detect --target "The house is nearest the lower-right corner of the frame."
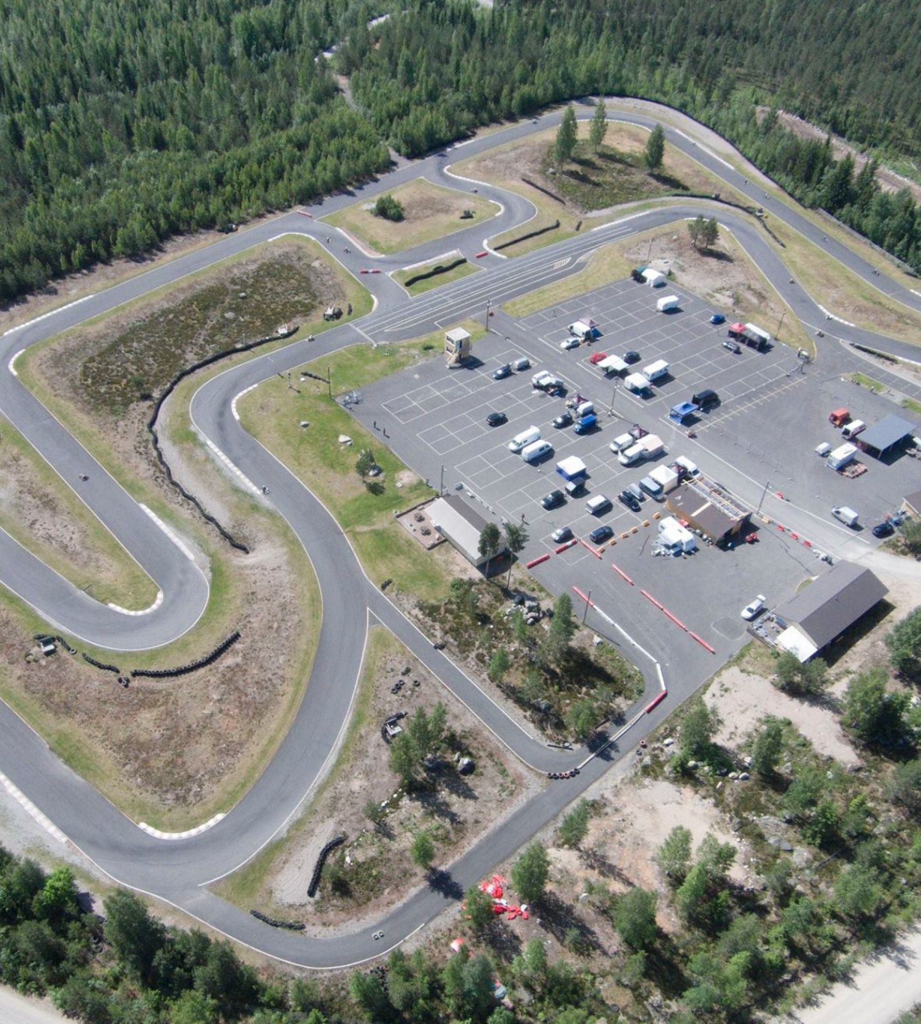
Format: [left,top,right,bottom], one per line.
[769,565,890,662]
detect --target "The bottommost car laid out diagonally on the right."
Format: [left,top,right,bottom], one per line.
[737,589,772,622]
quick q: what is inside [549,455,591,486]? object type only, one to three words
tent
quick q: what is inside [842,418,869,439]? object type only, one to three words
vehicle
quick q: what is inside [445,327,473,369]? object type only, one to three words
building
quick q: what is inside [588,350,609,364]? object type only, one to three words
car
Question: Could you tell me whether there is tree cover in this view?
Yes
